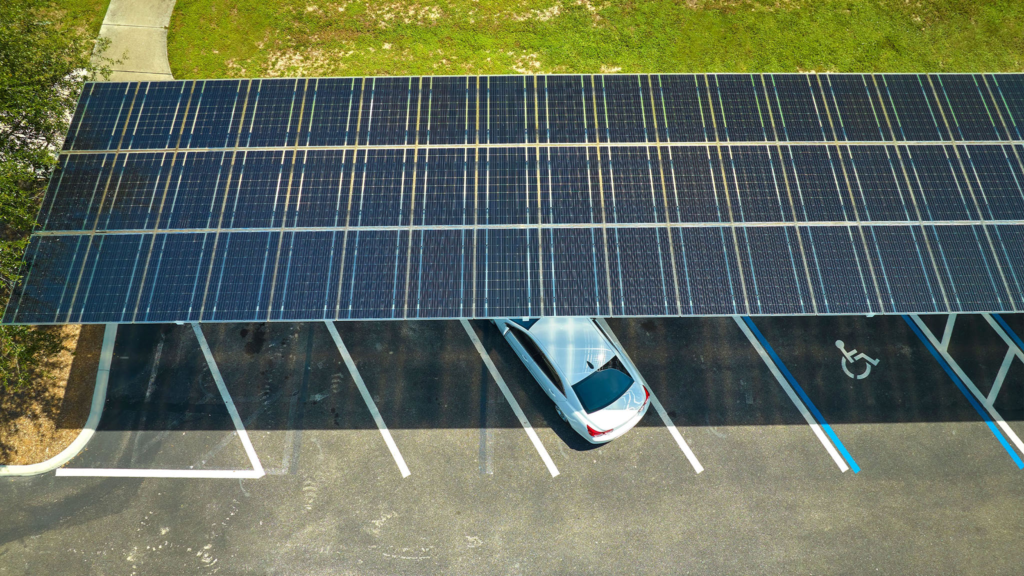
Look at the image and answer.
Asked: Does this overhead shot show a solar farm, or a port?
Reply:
solar farm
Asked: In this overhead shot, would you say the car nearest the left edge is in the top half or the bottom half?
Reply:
bottom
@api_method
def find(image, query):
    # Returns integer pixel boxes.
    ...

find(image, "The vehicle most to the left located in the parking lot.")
[488,317,648,444]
